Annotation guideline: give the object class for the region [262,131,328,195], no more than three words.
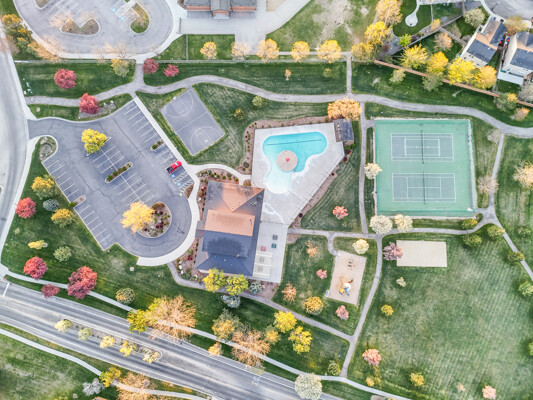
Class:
swimming pool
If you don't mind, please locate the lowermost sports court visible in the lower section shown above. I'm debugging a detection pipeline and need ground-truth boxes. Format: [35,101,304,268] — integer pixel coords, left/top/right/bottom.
[396,240,447,268]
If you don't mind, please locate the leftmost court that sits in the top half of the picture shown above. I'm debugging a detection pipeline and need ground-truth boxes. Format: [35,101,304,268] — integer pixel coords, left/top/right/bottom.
[160,89,224,155]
